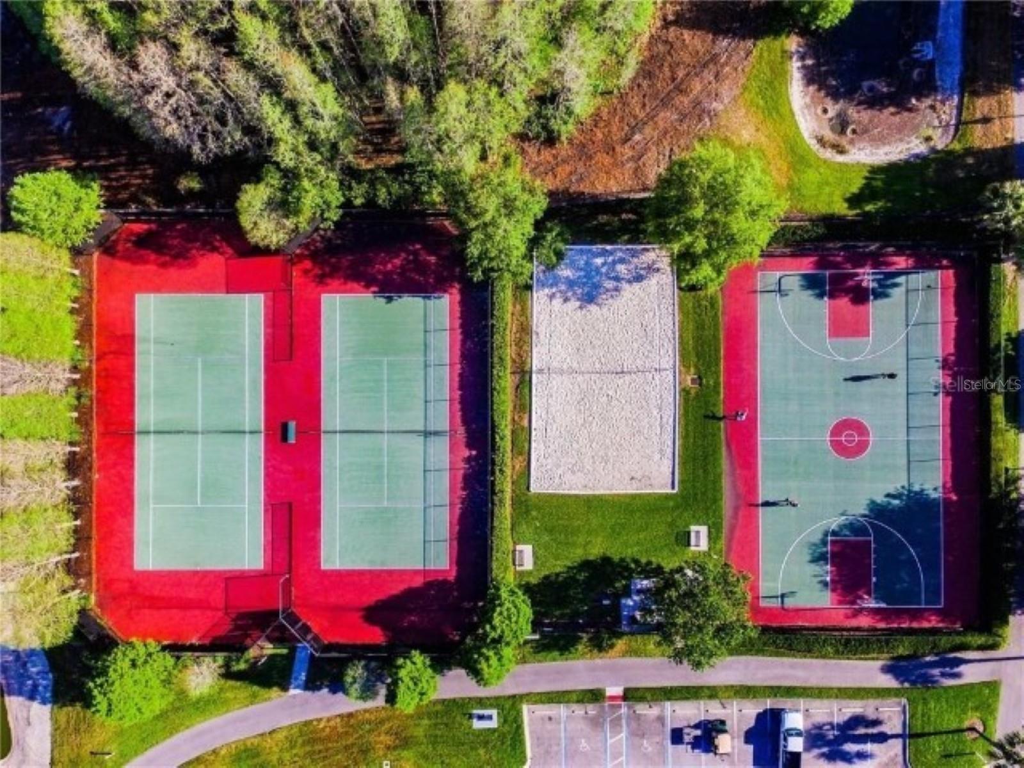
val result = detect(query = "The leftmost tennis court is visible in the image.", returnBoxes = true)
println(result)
[93,221,291,643]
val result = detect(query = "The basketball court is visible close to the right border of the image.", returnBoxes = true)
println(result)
[723,252,974,626]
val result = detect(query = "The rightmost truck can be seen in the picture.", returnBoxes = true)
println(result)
[776,707,806,768]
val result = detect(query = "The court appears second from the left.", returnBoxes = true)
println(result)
[291,221,491,643]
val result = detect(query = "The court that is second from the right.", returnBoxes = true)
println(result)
[529,244,678,494]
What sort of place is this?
sports ground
